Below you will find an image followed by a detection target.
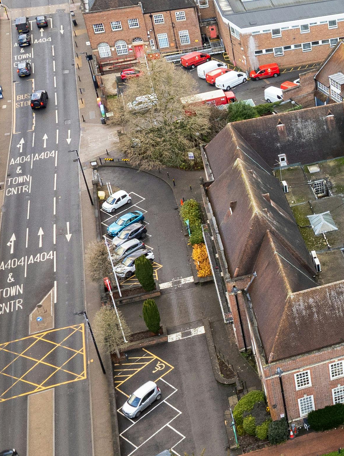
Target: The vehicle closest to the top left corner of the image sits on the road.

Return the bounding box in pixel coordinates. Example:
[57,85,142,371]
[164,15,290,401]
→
[15,16,29,32]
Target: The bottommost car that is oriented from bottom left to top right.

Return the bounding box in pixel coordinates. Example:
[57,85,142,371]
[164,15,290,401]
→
[120,382,166,423]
